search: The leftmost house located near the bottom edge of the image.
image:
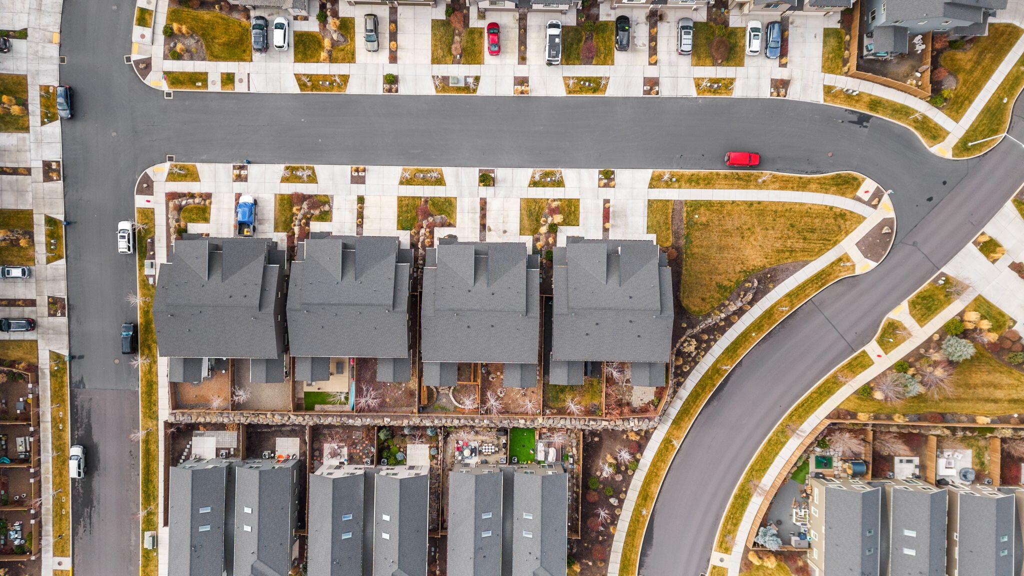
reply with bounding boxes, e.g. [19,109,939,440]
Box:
[167,457,299,576]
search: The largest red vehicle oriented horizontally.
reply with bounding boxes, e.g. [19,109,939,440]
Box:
[725,151,761,168]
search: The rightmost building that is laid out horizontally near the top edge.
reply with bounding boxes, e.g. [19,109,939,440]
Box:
[864,0,1006,58]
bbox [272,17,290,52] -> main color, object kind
white car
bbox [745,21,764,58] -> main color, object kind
white car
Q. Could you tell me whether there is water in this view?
No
